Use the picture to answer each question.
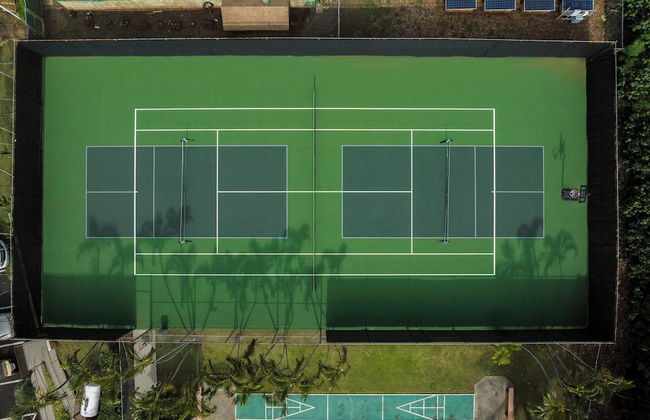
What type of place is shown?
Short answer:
sports ground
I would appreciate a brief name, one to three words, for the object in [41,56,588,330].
tennis court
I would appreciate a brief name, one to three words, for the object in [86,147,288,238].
sports court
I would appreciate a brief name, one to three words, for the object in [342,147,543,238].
sports court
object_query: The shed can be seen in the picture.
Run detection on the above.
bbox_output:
[220,0,289,36]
